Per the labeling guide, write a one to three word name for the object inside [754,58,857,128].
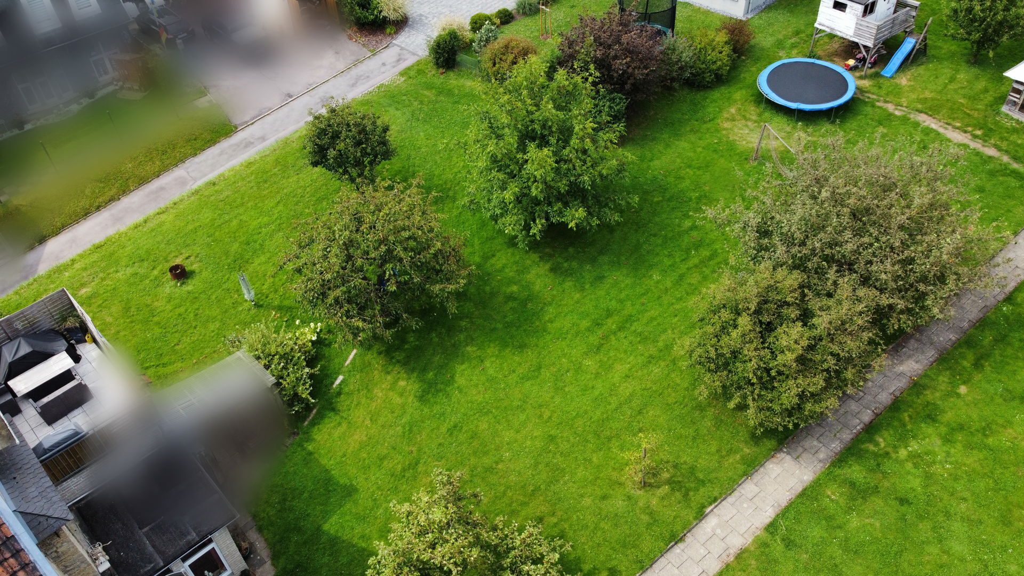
trampoline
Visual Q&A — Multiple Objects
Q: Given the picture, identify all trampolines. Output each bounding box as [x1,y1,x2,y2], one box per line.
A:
[611,0,680,54]
[754,58,857,128]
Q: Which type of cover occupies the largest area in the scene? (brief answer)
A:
grass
